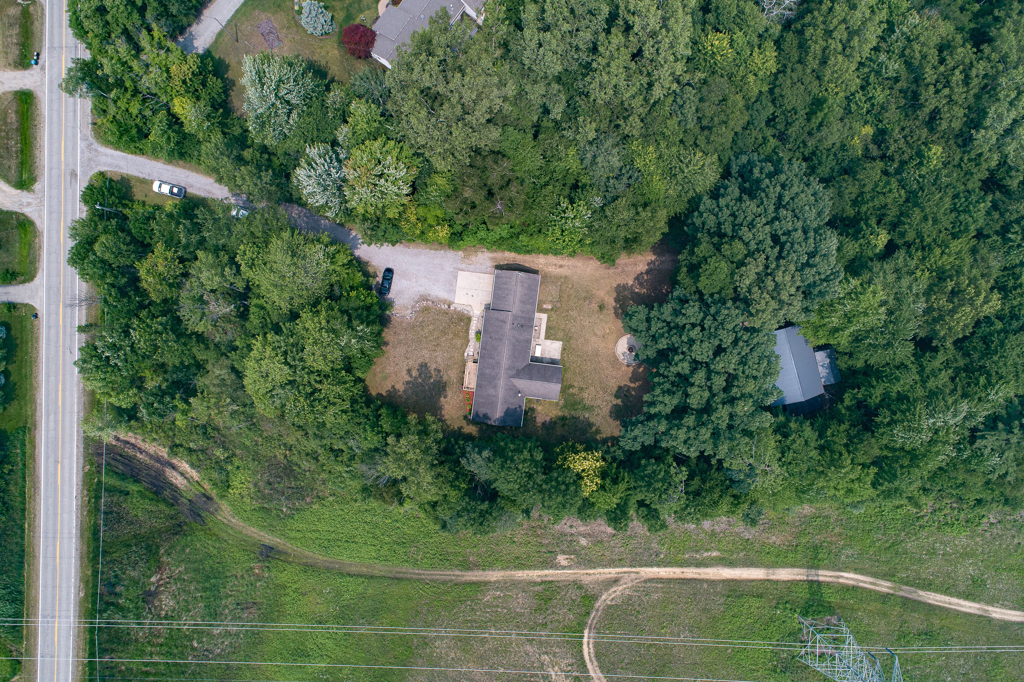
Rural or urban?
rural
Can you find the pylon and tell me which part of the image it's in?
bottom right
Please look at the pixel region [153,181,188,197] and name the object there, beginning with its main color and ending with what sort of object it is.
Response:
white vehicle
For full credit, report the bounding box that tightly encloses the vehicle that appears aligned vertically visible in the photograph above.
[380,267,395,297]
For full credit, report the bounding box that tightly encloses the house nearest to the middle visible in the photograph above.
[471,269,563,428]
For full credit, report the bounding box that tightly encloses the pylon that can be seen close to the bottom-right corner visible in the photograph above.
[797,615,903,682]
